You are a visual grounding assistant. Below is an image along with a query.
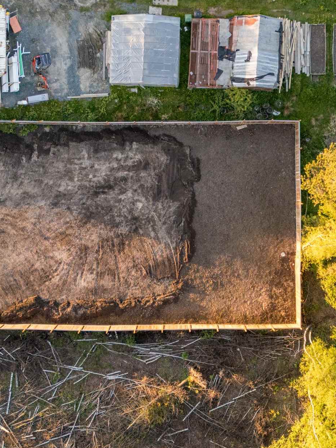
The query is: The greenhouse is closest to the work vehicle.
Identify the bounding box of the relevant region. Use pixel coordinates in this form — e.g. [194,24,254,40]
[101,13,179,90]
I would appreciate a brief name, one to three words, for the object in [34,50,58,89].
work vehicle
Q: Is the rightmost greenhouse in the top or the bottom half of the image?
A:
top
